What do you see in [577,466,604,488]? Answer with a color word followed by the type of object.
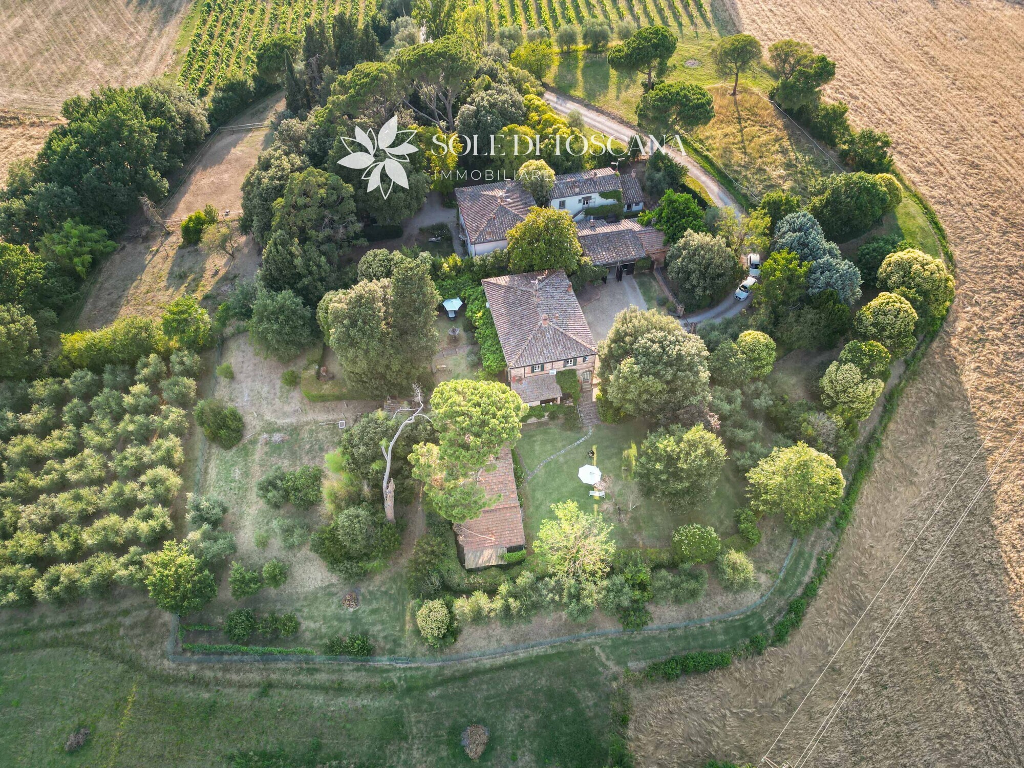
white umbrella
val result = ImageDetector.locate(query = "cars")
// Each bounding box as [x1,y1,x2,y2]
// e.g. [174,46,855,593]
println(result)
[736,277,755,301]
[746,255,762,279]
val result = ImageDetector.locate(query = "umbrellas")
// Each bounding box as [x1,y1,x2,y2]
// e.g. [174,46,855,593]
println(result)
[577,466,604,488]
[444,300,462,319]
